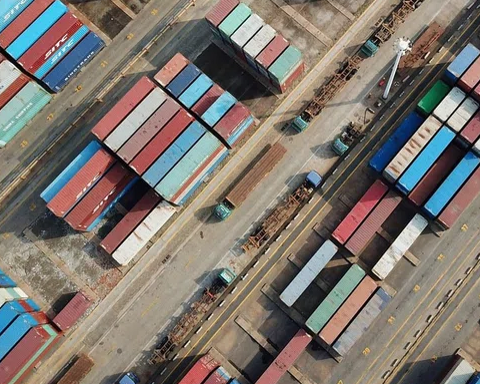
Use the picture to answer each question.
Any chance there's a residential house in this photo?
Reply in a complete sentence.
No, the picture doesn't show any residential house.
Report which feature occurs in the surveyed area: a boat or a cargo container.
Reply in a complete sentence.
I can see a cargo container in this picture.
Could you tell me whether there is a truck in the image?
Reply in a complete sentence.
Yes, I can see a truck in this picture.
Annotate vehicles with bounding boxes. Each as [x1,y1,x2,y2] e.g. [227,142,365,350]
[327,120,364,157]
[58,354,98,384]
[211,135,292,222]
[357,0,420,59]
[289,52,365,135]
[155,260,240,356]
[118,368,142,384]
[243,164,323,255]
